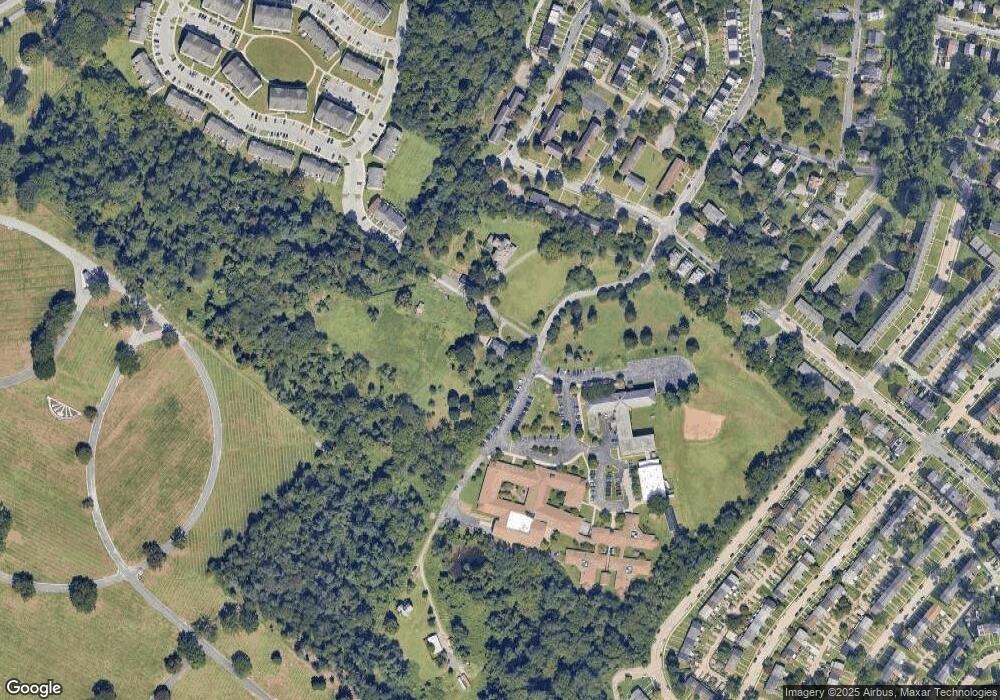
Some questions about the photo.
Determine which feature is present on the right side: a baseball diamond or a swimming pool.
baseball diamond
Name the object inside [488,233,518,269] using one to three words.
house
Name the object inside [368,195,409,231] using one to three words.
building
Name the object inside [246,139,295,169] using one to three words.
building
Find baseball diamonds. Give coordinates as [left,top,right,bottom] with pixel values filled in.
[684,405,726,441]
